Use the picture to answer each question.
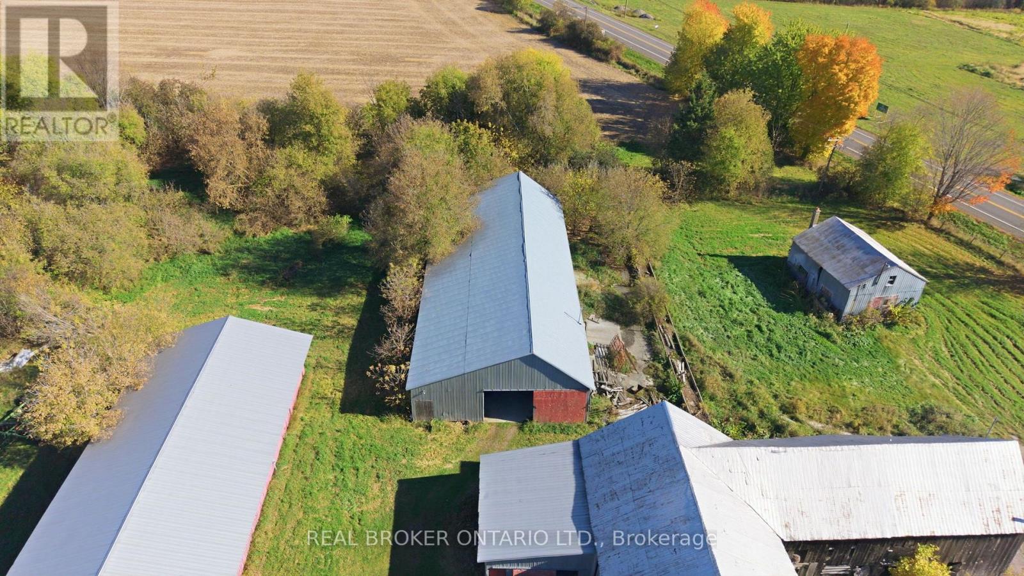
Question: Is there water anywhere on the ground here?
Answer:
No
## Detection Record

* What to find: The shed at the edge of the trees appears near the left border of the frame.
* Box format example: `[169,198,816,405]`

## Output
[5,315,313,576]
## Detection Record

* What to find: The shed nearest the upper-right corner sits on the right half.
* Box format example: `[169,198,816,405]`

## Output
[788,206,929,317]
